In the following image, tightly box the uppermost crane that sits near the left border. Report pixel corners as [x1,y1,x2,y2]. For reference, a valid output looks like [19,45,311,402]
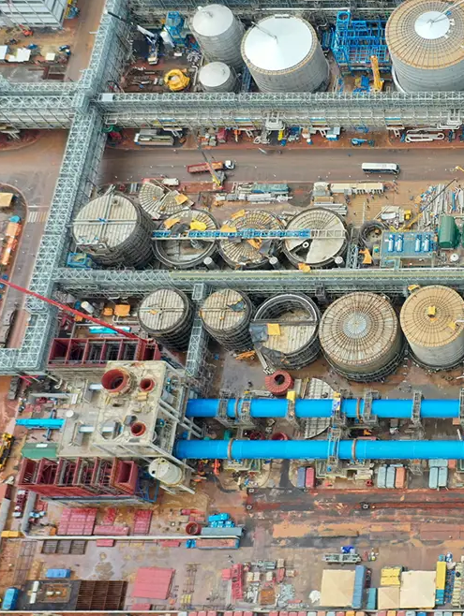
[0,277,151,339]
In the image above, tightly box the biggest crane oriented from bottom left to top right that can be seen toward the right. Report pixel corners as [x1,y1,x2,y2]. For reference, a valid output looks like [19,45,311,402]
[390,178,458,238]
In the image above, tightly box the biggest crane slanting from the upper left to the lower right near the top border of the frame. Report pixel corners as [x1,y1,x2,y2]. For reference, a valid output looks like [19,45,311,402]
[104,11,164,72]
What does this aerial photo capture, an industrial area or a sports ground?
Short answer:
industrial area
